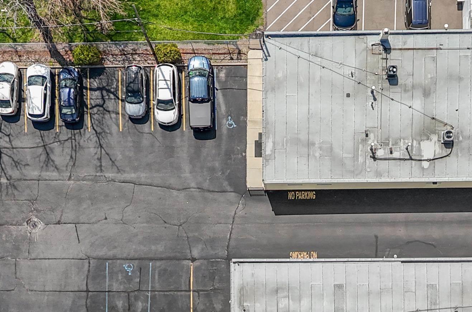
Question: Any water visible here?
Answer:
No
